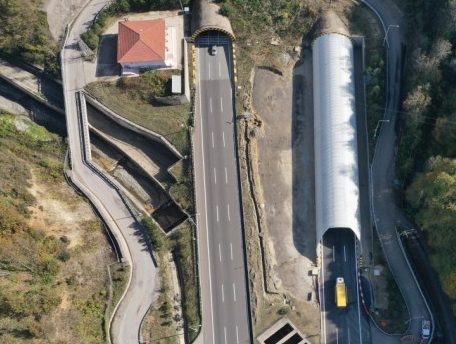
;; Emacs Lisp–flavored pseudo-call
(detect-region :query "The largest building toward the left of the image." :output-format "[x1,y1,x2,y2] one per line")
[118,19,177,78]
